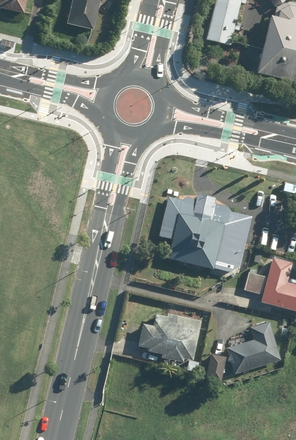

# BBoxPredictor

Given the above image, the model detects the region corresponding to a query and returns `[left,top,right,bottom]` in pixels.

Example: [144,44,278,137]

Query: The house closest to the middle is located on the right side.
[158,196,252,273]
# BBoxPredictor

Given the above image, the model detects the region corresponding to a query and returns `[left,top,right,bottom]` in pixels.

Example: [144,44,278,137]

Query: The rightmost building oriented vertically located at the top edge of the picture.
[258,2,296,83]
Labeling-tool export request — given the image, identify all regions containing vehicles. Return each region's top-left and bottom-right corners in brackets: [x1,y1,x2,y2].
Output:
[156,64,163,78]
[288,238,296,252]
[40,417,48,432]
[99,0,110,16]
[214,340,222,356]
[58,375,66,391]
[270,234,279,251]
[268,195,277,211]
[260,228,270,246]
[104,231,113,248]
[93,318,102,333]
[89,296,98,312]
[256,192,264,208]
[142,352,158,362]
[98,302,106,316]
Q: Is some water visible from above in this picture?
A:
No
